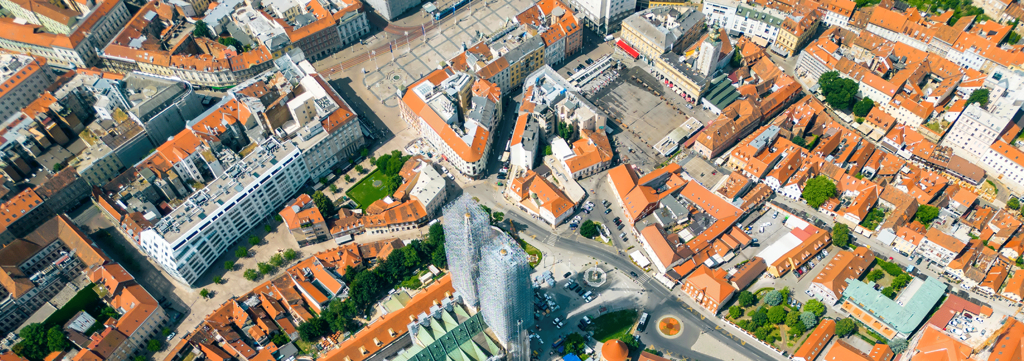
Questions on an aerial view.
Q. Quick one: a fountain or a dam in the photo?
fountain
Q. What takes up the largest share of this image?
buildings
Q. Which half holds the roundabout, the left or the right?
right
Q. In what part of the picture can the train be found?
top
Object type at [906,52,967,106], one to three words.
house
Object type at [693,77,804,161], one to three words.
house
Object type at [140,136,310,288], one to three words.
building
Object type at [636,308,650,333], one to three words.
vehicle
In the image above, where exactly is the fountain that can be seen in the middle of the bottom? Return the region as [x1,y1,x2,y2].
[583,261,607,288]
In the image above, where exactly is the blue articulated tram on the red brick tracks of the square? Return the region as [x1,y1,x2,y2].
[434,0,473,21]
